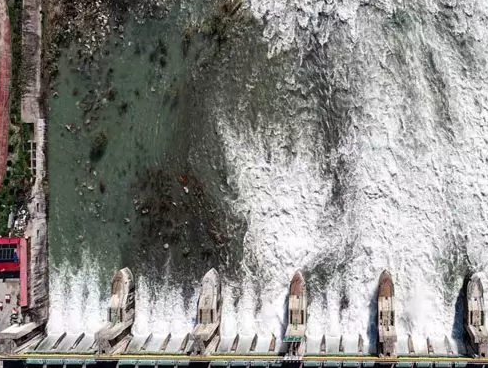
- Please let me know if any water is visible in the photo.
Yes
